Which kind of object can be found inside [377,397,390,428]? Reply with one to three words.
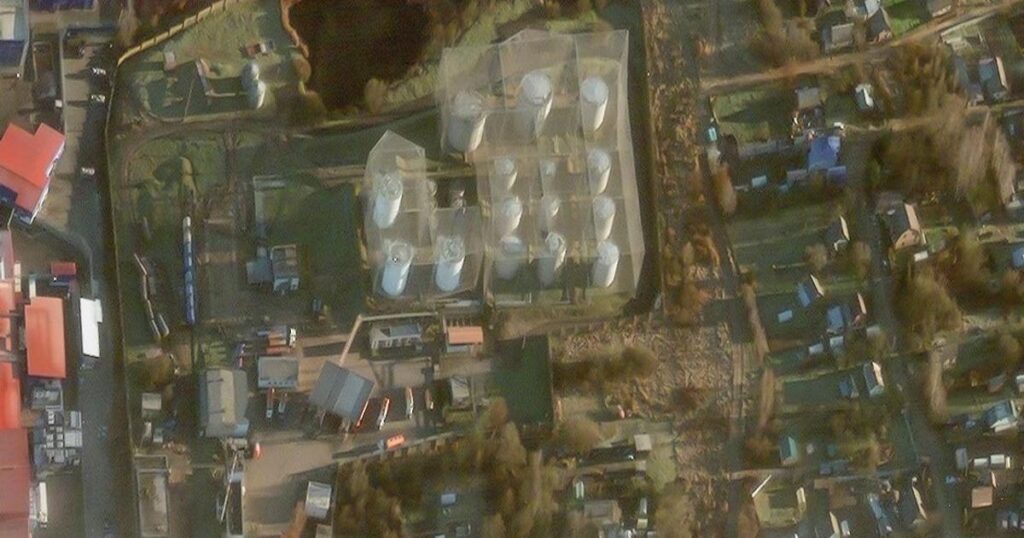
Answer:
vehicle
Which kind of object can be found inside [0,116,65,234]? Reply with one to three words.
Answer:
building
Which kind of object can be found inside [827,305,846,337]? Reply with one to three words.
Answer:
house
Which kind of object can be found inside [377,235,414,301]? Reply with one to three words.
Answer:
storage tank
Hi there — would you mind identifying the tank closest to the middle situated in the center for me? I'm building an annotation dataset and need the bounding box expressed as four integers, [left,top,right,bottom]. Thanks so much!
[494,229,524,283]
